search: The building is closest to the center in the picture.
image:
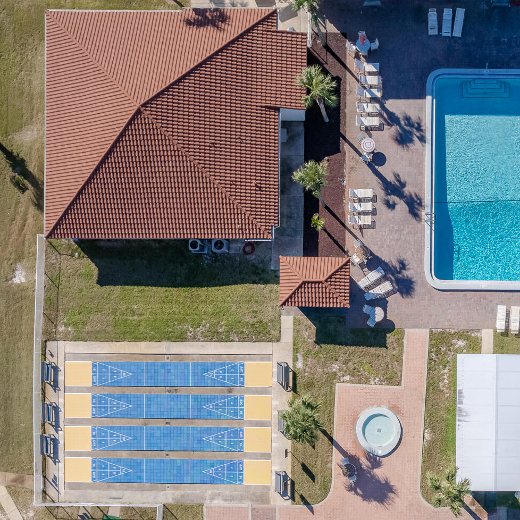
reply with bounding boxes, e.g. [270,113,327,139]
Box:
[279,256,351,309]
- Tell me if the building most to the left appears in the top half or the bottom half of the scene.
top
